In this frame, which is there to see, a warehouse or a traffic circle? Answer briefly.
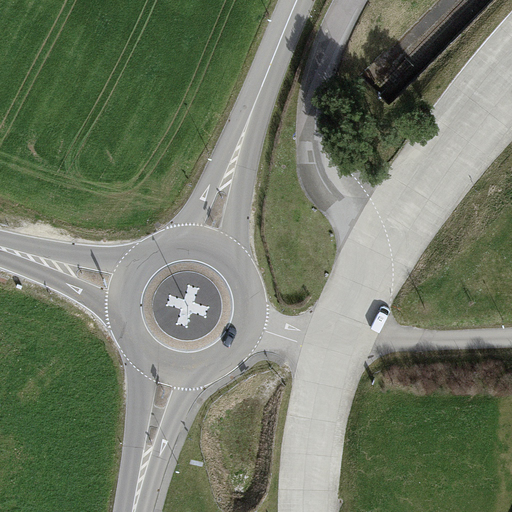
traffic circle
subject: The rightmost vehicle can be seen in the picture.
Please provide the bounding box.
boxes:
[370,306,390,333]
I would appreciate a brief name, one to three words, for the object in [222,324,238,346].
car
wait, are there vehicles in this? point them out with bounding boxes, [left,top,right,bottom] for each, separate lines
[370,306,390,333]
[222,324,238,346]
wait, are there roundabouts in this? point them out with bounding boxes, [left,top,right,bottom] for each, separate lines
[106,224,270,390]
